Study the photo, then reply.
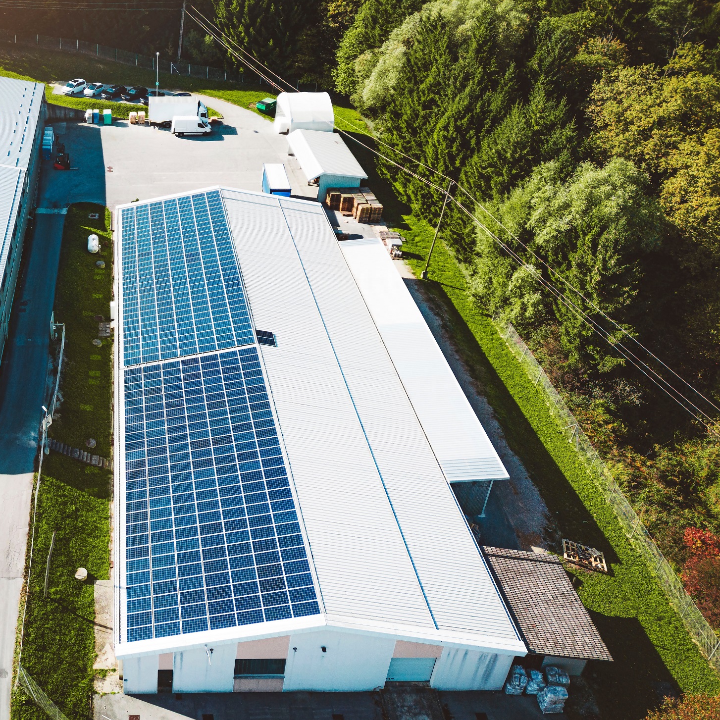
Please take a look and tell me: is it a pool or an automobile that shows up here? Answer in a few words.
automobile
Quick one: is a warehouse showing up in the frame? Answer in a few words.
Yes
